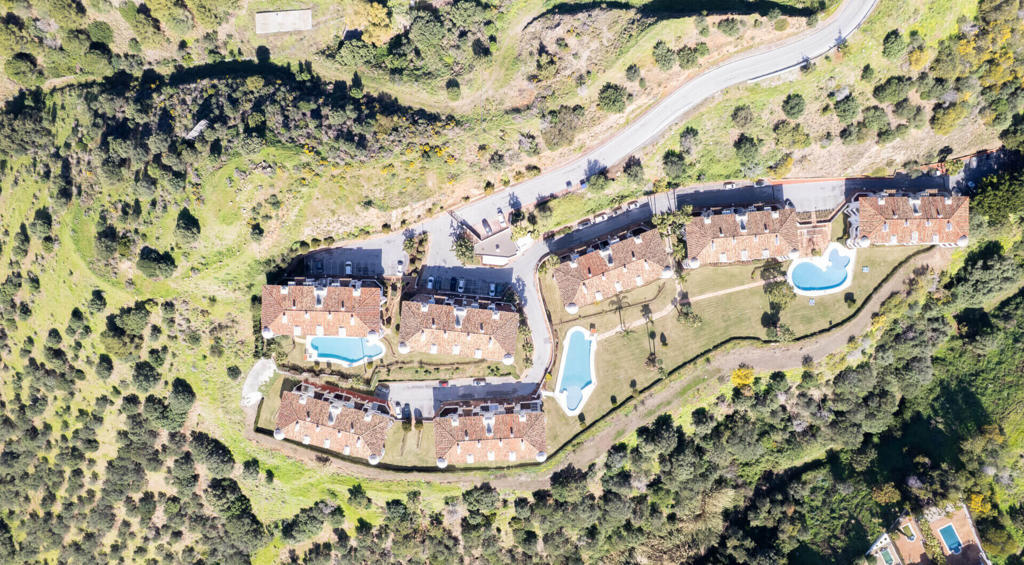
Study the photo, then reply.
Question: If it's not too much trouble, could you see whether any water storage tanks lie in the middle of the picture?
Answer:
No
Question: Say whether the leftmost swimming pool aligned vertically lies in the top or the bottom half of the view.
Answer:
bottom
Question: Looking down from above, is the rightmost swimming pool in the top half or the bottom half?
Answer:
bottom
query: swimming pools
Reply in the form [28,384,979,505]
[554,326,598,418]
[880,548,895,565]
[300,335,386,369]
[787,242,857,297]
[937,522,963,556]
[901,523,916,542]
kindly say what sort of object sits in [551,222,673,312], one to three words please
building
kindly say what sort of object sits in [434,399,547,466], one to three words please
building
